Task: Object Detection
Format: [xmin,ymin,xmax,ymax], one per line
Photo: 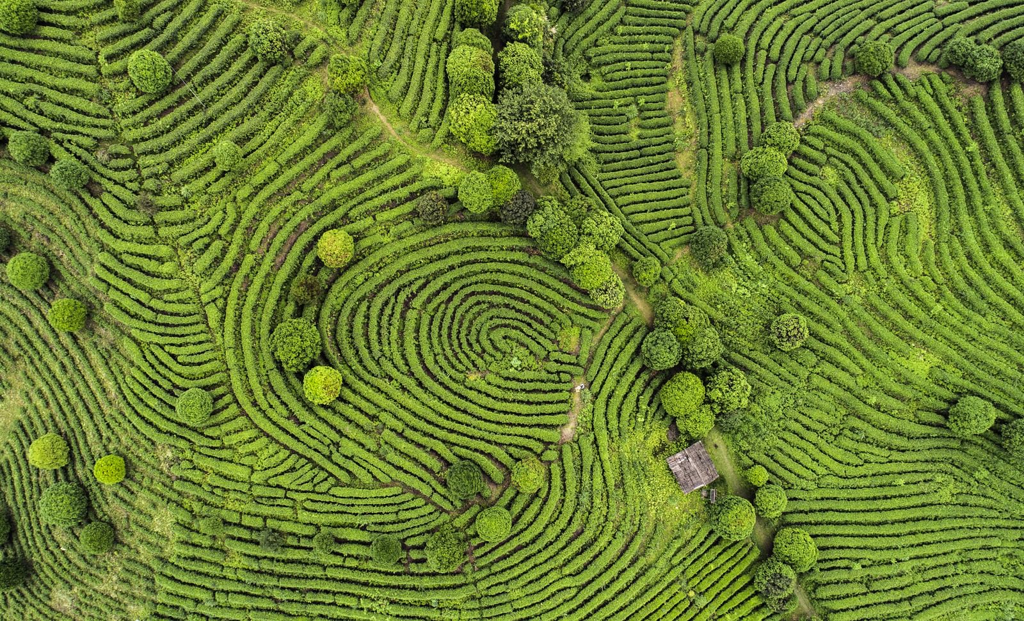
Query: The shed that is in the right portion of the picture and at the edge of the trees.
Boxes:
[664,440,720,495]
